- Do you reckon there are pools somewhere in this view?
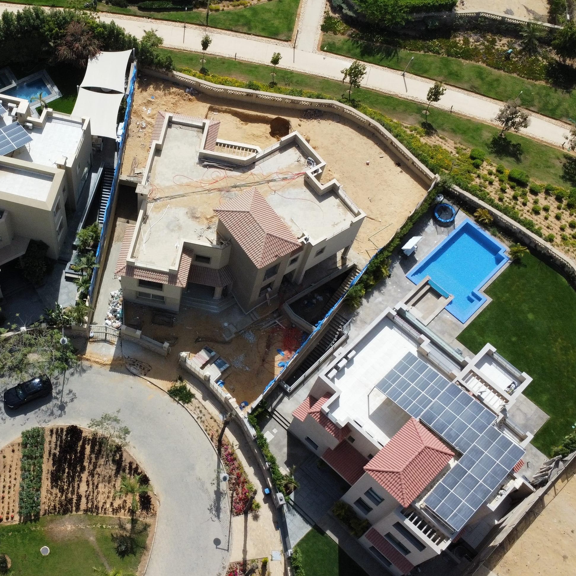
Yes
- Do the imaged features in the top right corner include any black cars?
No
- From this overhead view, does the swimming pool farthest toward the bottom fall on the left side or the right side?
right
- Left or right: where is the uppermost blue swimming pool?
left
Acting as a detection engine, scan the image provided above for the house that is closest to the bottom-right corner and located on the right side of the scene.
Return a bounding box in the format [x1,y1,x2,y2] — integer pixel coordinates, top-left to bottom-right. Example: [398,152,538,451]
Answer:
[285,305,533,576]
